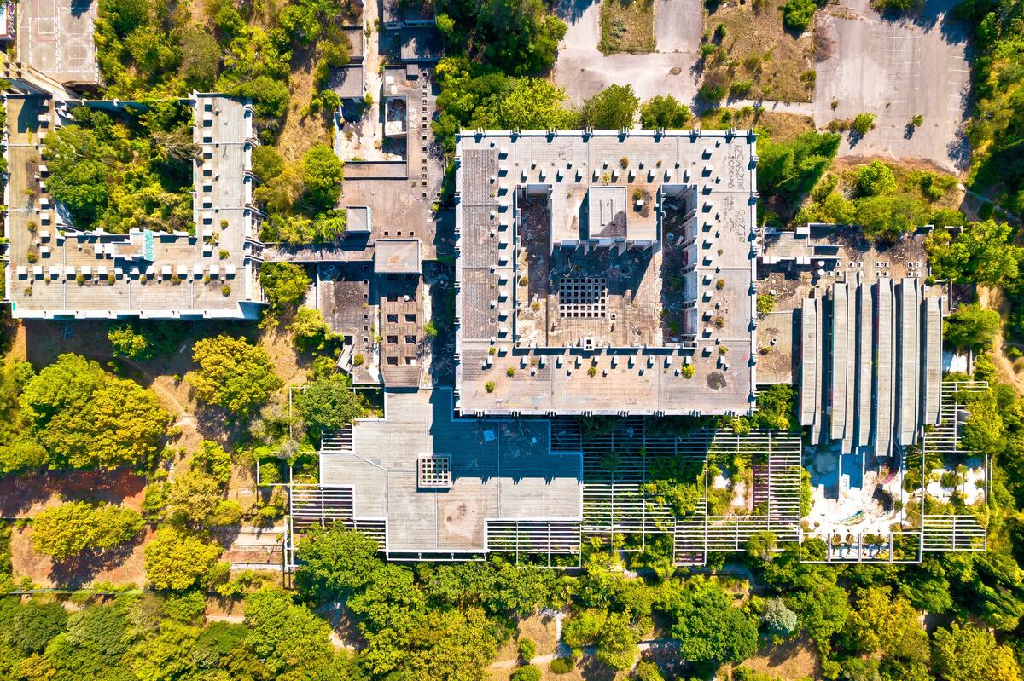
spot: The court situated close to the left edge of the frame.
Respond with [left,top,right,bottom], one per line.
[15,0,97,81]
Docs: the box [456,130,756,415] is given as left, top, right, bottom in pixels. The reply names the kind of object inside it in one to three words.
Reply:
building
